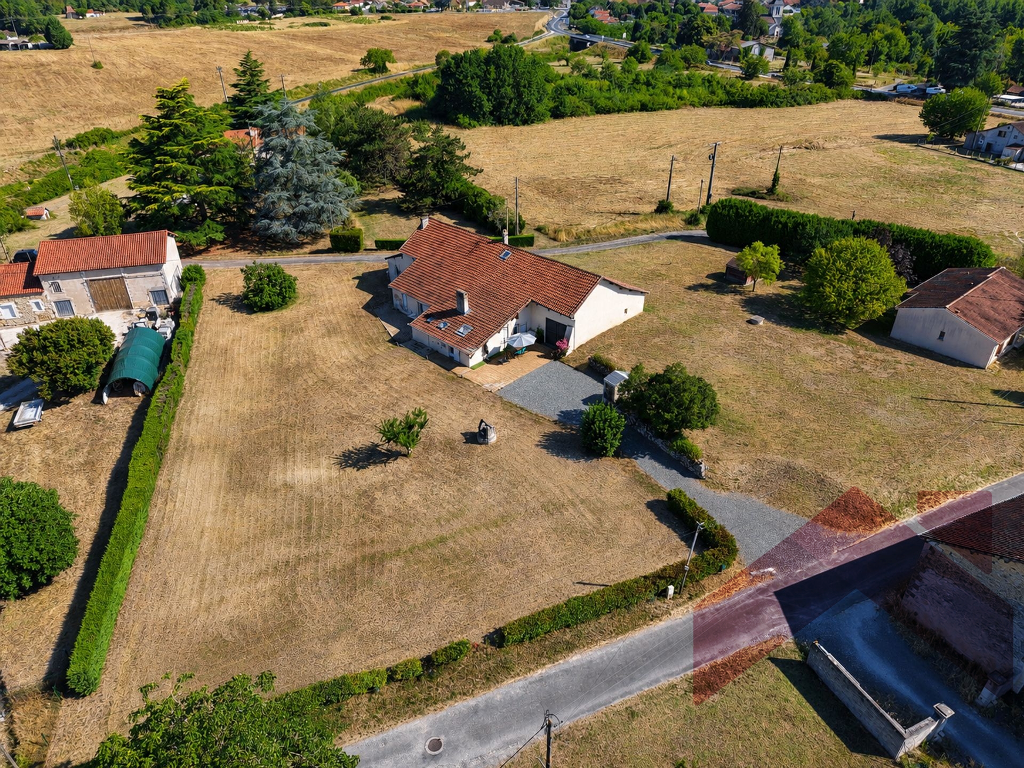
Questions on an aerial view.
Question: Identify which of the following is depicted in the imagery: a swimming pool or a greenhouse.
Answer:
greenhouse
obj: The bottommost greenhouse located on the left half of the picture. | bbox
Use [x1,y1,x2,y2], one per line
[99,331,169,404]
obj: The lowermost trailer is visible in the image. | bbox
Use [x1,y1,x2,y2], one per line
[7,402,42,429]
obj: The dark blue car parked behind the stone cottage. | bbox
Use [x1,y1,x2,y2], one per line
[0,245,39,266]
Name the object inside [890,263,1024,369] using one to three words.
house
